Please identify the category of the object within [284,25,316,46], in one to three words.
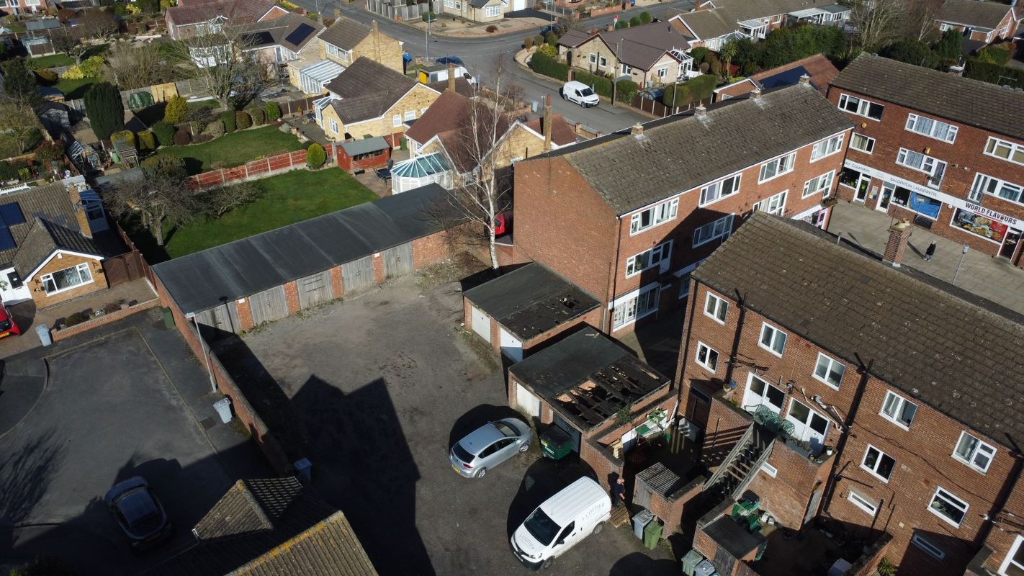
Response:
solar panel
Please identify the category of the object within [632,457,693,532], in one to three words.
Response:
building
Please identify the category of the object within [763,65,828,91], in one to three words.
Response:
solar panel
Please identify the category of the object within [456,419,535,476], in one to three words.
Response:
car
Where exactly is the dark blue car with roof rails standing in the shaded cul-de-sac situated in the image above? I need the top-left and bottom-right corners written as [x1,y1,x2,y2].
[107,475,172,547]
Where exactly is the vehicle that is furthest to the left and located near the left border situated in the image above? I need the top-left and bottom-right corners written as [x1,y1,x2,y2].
[0,310,22,348]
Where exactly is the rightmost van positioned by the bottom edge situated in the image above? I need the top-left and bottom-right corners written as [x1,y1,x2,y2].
[509,481,612,568]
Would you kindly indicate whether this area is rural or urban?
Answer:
urban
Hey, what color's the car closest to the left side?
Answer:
red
